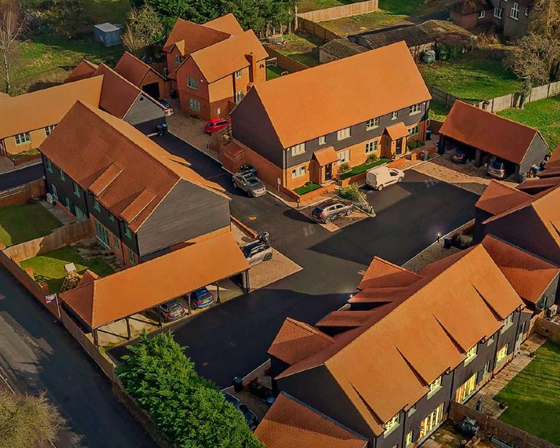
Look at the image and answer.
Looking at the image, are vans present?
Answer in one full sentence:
Yes, the image includes a van.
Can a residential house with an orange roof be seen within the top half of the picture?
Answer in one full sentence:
Yes, looking within the top half of the picture, one can make out a residential house with an orange roof.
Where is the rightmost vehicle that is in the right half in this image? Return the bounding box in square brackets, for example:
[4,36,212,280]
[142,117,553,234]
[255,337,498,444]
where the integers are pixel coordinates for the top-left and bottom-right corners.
[484,155,511,180]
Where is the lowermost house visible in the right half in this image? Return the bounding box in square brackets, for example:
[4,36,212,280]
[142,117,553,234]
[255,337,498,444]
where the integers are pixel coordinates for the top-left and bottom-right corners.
[247,243,531,448]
